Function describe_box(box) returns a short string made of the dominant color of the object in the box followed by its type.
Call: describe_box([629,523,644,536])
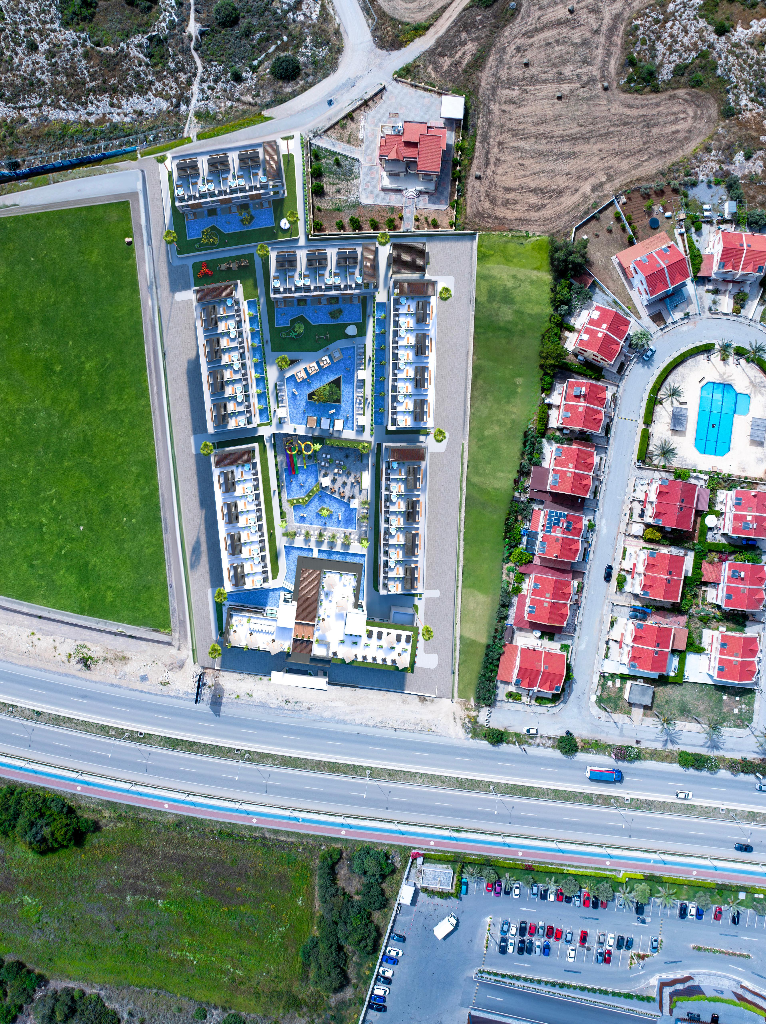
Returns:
white gazebo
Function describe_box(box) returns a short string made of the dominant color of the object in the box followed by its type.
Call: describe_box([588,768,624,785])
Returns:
blue vehicle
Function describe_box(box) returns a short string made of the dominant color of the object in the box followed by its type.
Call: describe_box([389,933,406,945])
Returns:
blue vehicle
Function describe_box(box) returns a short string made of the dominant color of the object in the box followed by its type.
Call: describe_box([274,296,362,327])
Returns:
blue swimming pool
